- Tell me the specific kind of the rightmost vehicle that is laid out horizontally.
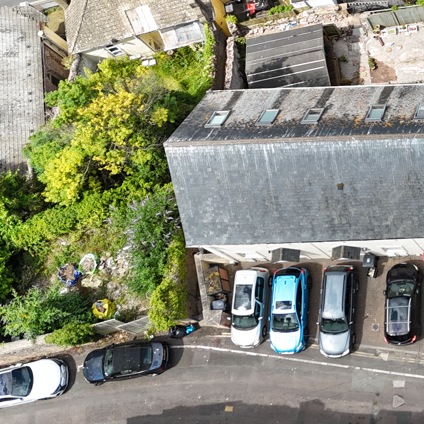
automobile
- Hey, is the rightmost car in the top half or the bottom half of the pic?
bottom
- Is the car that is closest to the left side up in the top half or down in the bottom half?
bottom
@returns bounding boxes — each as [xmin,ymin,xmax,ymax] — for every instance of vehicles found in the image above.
[85,339,172,388]
[0,358,71,408]
[225,268,272,347]
[380,267,423,345]
[313,267,360,358]
[265,268,312,354]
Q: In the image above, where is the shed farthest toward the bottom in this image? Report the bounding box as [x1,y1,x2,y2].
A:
[204,267,233,295]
